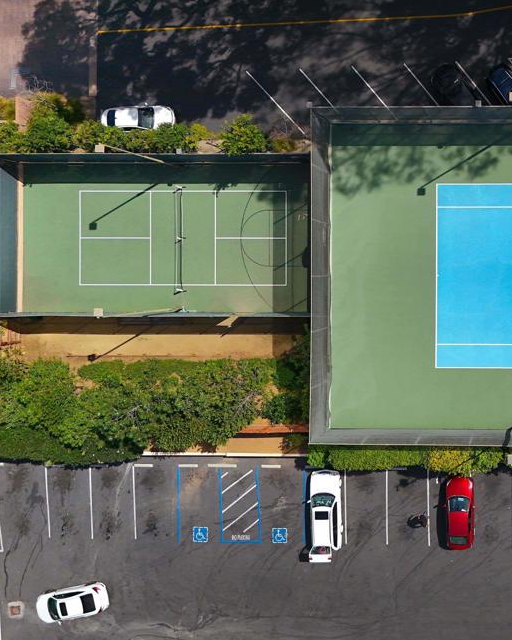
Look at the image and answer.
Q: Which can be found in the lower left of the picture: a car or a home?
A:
car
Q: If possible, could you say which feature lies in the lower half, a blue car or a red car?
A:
red car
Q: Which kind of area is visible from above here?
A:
sports ground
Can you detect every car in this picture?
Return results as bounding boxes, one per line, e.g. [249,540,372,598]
[304,470,342,560]
[443,475,476,549]
[103,99,177,134]
[444,62,498,106]
[39,580,112,625]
